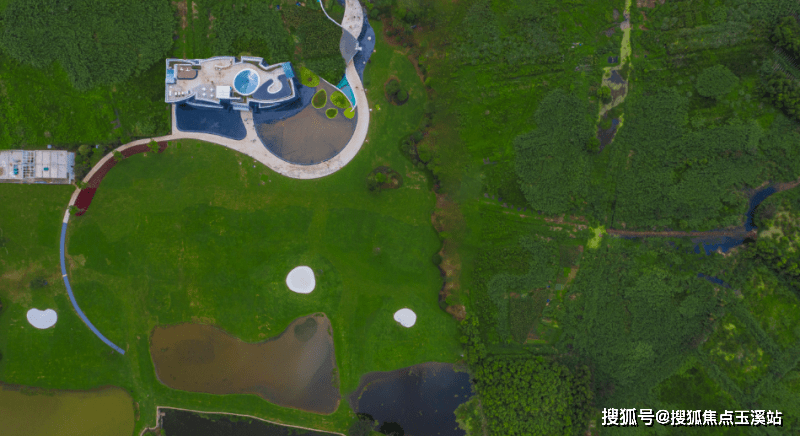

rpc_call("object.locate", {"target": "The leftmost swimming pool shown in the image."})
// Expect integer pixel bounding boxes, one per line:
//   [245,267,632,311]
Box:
[177,102,246,139]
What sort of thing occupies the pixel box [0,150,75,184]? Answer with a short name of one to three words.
building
